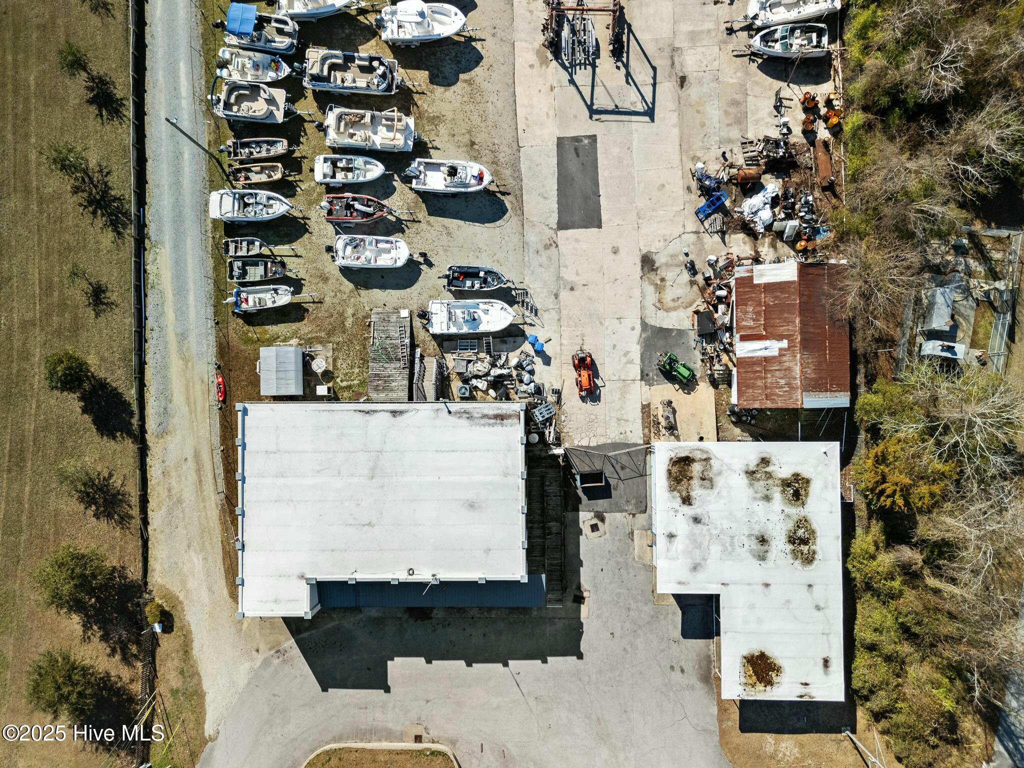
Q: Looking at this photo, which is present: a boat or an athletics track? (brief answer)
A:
boat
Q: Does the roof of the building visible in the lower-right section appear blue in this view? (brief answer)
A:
No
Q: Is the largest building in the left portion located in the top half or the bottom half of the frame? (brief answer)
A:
bottom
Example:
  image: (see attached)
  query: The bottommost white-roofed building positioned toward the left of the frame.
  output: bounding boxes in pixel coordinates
[235,401,545,619]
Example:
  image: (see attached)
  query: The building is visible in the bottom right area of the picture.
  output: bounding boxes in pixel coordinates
[650,442,854,700]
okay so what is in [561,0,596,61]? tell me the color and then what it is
gray trailer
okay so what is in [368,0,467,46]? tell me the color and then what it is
white boat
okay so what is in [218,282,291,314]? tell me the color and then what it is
white boat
